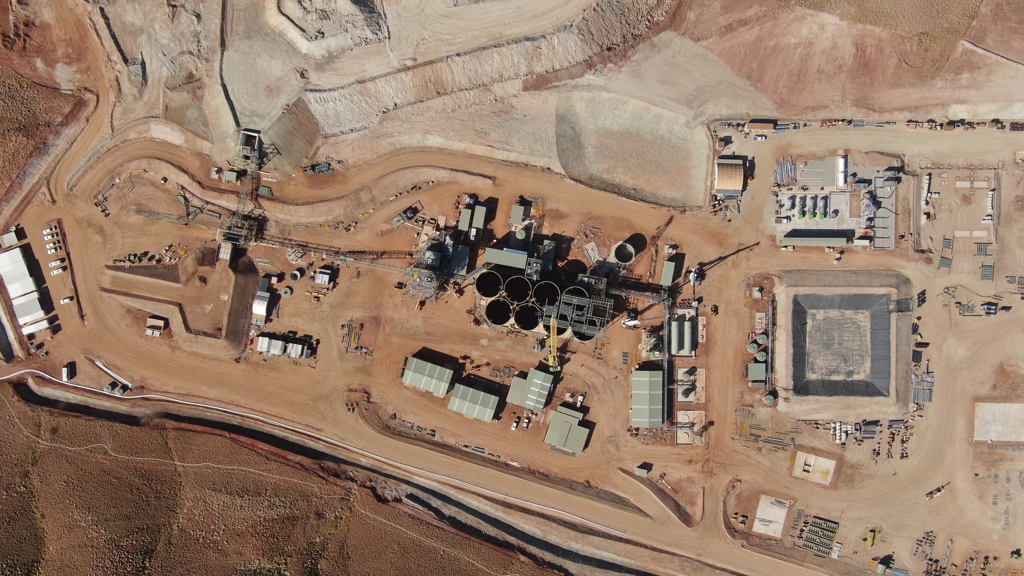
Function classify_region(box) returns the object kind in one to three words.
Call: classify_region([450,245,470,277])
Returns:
building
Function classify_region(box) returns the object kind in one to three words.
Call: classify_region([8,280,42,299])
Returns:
building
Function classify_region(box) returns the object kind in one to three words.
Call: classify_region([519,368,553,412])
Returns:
shed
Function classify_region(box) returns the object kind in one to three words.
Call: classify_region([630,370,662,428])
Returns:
shed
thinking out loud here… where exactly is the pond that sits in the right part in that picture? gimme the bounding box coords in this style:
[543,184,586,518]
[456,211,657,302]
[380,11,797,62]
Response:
[791,293,914,398]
